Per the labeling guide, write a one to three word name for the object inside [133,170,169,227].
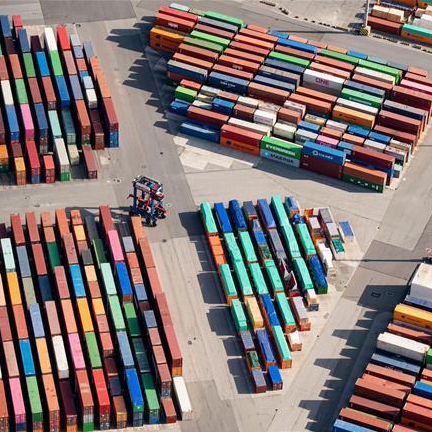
work vehicle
